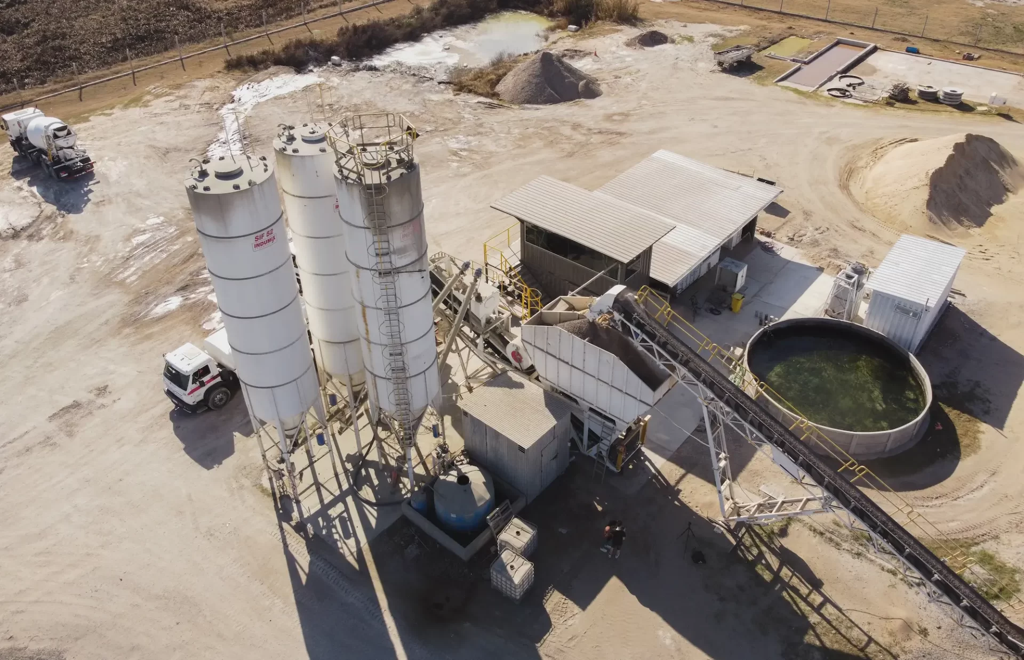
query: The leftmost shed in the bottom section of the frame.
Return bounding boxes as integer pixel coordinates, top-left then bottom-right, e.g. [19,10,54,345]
[459,370,575,495]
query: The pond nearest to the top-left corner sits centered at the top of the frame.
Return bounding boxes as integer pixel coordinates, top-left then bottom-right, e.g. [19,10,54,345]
[445,11,554,71]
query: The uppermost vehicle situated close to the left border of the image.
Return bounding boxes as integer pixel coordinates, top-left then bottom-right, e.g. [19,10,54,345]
[0,104,94,178]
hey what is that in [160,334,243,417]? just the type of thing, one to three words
truck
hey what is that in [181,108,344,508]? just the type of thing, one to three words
silo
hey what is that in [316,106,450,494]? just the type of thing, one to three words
silo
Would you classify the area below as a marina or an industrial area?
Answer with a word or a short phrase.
industrial area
